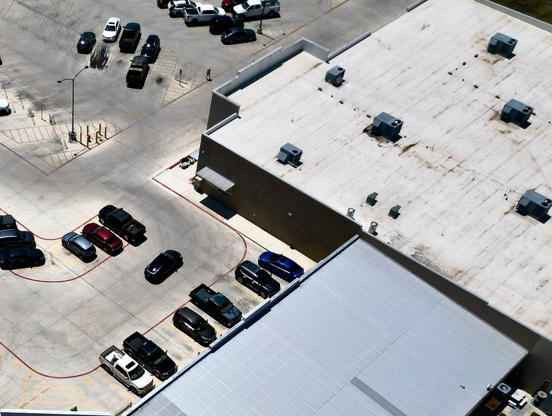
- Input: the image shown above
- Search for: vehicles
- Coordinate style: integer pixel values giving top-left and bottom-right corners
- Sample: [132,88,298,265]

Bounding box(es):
[97,205,149,242]
[97,346,155,395]
[208,15,244,35]
[231,0,283,21]
[168,0,200,17]
[0,102,10,118]
[141,35,160,61]
[220,0,251,12]
[220,29,256,47]
[233,260,281,296]
[60,236,99,263]
[120,331,179,378]
[81,226,125,255]
[257,254,305,283]
[103,19,121,43]
[0,249,45,271]
[0,215,19,230]
[156,0,171,10]
[0,229,36,253]
[143,253,185,285]
[182,2,227,24]
[189,283,244,328]
[77,35,96,55]
[125,56,149,87]
[171,307,217,347]
[119,23,141,52]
